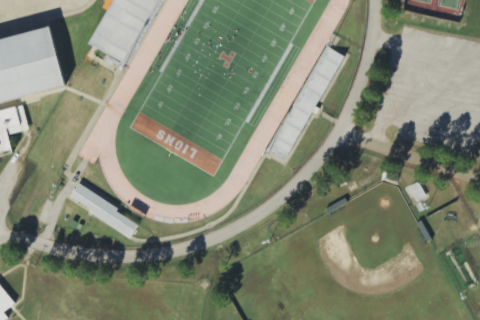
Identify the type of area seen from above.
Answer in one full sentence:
This looks like a sports ground.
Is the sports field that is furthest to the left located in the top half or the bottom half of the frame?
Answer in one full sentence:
The sports field that is furthest to the left is in the top half of the image.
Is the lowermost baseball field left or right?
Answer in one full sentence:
The lowermost baseball field is on the right side of the image.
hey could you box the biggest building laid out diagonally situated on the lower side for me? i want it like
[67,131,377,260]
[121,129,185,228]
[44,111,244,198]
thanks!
[66,182,139,238]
